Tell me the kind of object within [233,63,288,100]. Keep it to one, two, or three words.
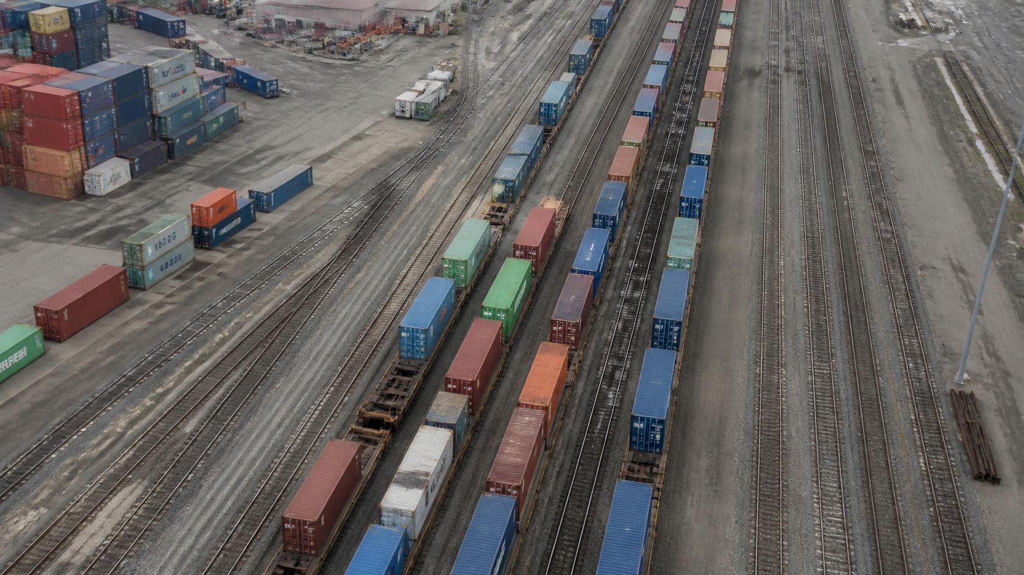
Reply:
shipping container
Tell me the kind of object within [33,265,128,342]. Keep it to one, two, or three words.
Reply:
shipping container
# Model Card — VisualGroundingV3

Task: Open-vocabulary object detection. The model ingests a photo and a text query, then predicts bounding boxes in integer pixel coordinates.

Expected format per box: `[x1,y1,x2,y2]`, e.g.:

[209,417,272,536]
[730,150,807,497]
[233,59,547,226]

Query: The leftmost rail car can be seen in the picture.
[262,444,383,575]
